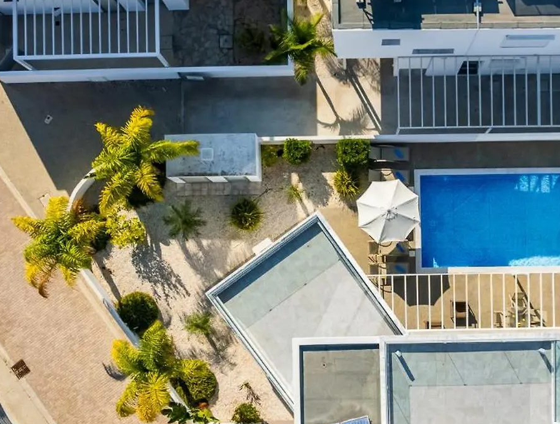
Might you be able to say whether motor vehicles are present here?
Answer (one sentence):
No, I can see no motor vehicle in this picture.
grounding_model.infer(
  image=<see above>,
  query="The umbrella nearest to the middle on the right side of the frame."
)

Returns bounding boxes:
[355,179,421,245]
